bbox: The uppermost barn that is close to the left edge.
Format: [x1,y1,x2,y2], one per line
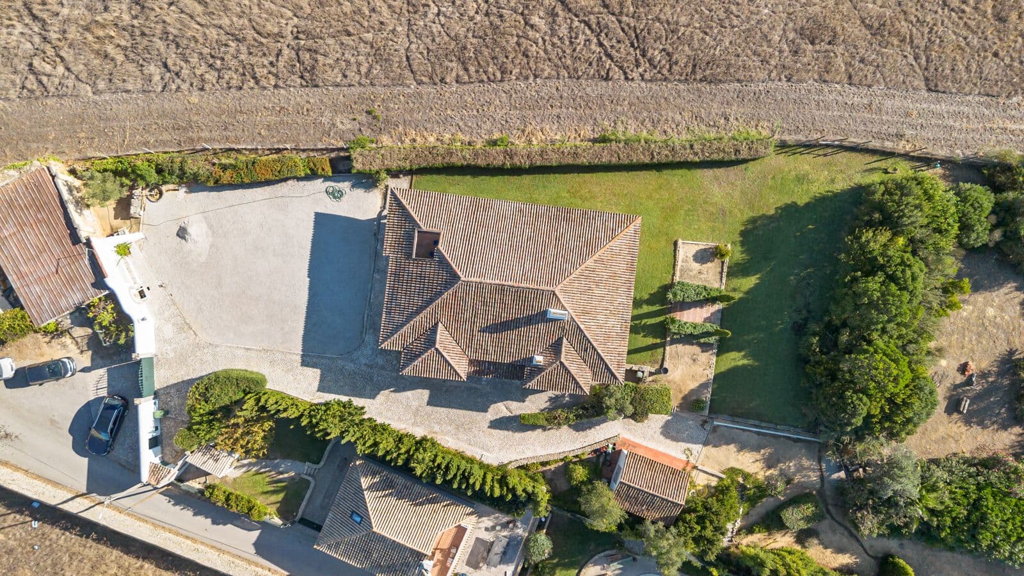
[0,167,114,330]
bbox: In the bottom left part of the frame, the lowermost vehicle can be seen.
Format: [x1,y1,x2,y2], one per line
[88,396,132,457]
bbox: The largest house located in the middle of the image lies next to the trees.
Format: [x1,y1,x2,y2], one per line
[373,186,643,396]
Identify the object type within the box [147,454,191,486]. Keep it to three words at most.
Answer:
shed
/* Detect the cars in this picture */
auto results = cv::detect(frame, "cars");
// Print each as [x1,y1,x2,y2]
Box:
[0,354,18,382]
[24,356,81,385]
[88,396,132,457]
